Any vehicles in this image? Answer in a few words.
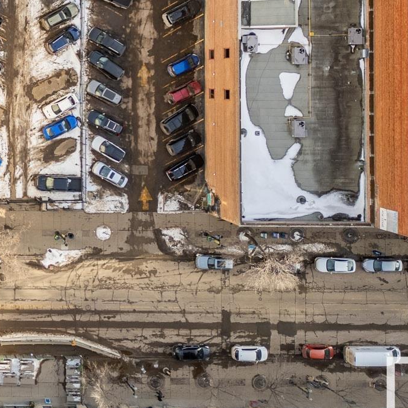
Yes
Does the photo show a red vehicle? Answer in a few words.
Yes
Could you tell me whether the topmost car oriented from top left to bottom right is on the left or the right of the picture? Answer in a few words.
left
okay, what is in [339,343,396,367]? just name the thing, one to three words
vehicle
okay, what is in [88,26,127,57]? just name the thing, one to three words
car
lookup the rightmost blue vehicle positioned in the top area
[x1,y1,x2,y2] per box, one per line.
[166,53,201,78]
